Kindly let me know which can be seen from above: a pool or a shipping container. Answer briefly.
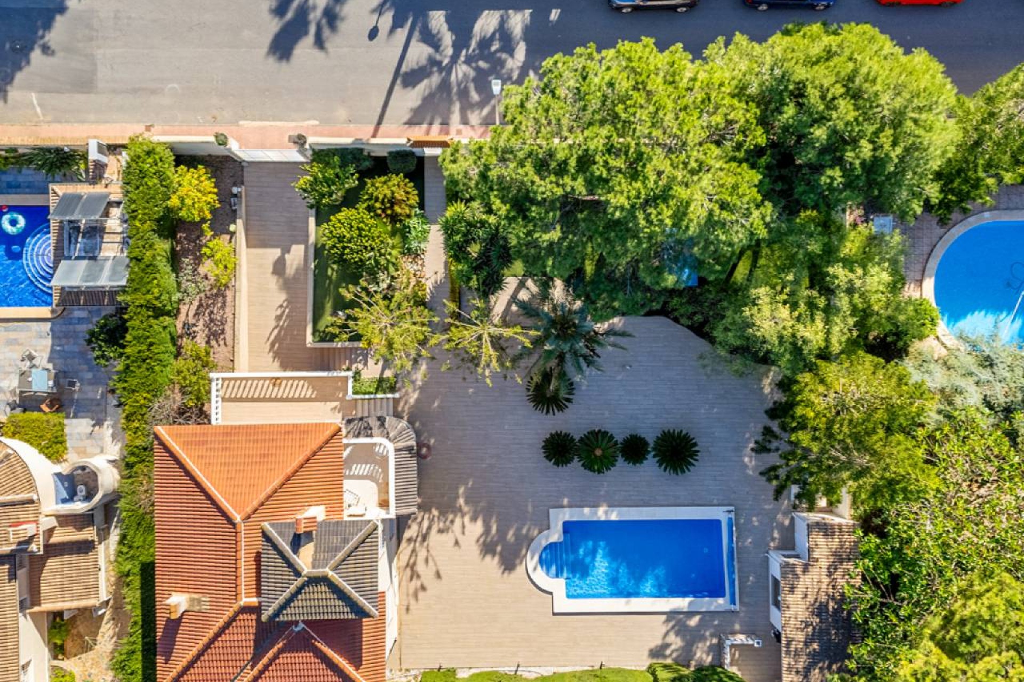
pool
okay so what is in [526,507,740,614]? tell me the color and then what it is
blue swimming pool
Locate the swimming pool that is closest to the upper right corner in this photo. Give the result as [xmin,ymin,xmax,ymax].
[922,209,1024,356]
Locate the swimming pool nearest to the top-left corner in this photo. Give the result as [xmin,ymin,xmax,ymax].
[0,195,64,319]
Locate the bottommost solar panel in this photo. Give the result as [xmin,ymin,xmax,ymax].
[49,259,136,286]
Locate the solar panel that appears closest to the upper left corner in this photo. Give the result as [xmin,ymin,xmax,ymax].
[46,192,119,222]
